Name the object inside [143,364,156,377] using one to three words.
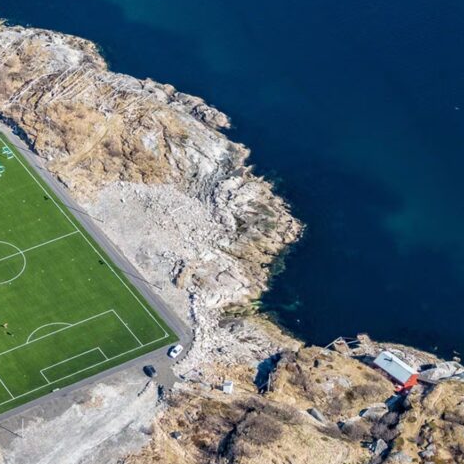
vehicle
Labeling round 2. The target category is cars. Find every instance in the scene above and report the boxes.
[143,364,156,377]
[170,344,183,357]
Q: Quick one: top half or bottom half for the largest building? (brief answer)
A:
bottom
